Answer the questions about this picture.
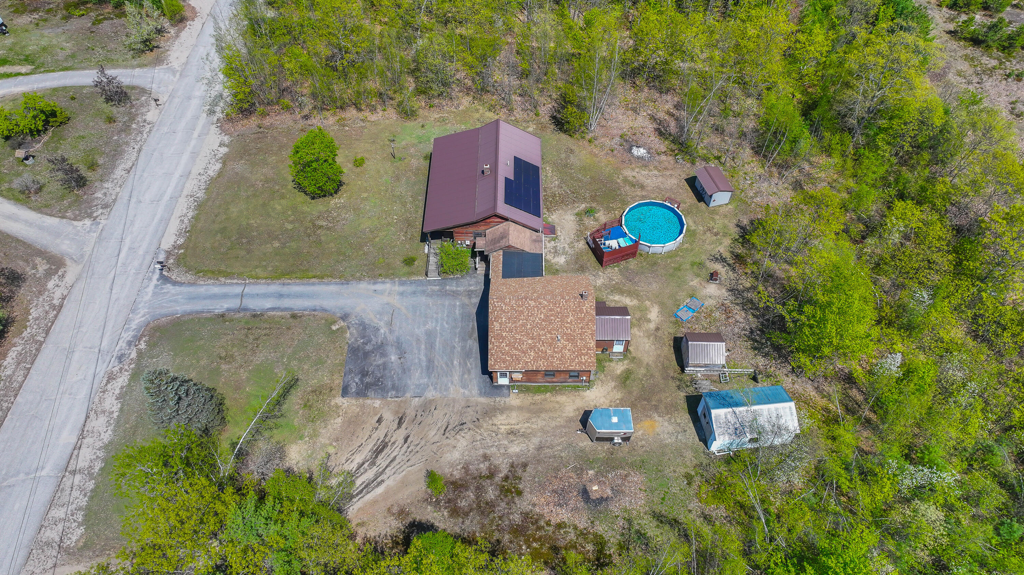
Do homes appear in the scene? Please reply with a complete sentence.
Yes, the photo shows a home.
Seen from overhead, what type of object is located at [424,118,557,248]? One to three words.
house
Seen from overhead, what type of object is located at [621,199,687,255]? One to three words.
swimming pool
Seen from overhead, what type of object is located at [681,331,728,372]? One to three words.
shed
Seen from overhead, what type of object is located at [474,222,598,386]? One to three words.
building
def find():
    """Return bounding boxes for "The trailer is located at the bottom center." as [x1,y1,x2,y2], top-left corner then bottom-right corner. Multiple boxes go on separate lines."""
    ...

[576,408,634,448]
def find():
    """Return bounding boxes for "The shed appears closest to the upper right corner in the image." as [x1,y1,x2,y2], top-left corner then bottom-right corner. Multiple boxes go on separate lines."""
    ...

[697,163,737,207]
